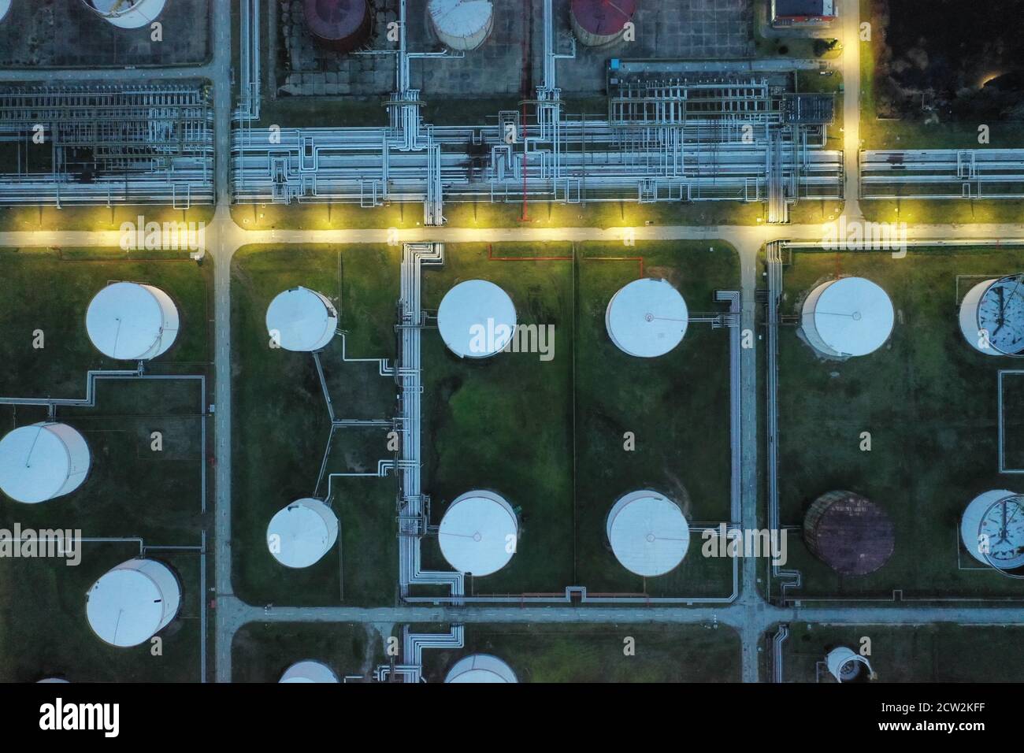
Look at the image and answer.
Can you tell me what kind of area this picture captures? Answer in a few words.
industrial area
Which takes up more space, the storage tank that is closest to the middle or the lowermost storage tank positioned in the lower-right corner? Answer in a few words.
the storage tank that is closest to the middle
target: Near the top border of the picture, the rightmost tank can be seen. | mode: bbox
[567,0,637,48]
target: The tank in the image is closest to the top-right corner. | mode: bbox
[958,273,1024,357]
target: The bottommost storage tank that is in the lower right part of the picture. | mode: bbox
[824,644,876,691]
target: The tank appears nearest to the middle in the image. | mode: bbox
[437,279,518,359]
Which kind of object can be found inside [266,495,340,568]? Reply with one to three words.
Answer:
storage tank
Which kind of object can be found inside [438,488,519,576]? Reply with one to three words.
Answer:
storage tank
